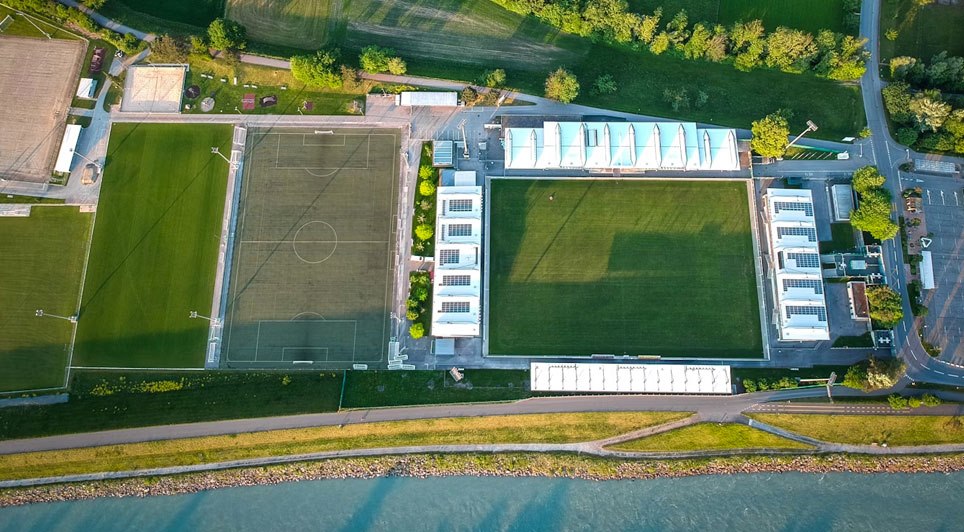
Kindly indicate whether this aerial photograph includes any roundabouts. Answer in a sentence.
No, there isn't any roundabout down there.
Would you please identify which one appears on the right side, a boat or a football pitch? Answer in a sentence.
There is a football pitch on the right side.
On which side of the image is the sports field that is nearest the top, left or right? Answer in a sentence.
The sports field that is nearest the top sits on the left side.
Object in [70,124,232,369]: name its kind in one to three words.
soccer field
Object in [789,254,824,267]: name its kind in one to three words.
solar array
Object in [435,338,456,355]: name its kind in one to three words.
shed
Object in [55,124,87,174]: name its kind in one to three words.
building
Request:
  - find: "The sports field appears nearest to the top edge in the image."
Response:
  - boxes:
[0,35,87,184]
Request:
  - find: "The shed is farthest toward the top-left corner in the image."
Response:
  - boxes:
[76,77,106,100]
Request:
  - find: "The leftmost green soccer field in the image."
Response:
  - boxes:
[0,209,89,393]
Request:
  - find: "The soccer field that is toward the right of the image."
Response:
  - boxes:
[482,173,773,363]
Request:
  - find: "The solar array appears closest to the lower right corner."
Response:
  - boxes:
[786,307,830,321]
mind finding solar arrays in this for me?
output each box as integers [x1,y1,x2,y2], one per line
[441,302,470,313]
[789,254,824,267]
[778,228,821,241]
[776,203,818,217]
[786,307,830,321]
[783,280,827,294]
[442,276,471,286]
[451,201,474,211]
[440,250,460,263]
[450,225,474,236]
